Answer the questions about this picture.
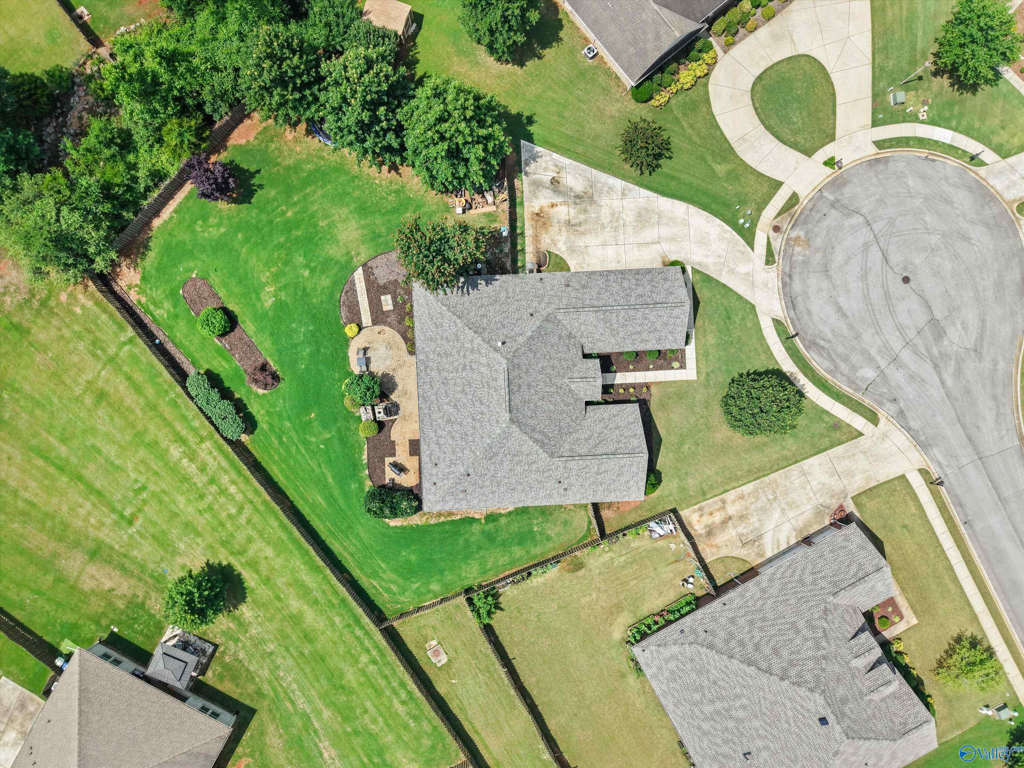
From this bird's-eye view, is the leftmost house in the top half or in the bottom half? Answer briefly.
bottom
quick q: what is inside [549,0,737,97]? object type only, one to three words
house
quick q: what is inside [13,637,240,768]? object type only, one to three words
house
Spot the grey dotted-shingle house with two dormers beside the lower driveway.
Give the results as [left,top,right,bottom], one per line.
[630,521,938,768]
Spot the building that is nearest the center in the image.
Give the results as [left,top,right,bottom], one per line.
[412,266,690,513]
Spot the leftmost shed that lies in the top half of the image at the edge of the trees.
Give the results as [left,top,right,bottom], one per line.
[362,0,414,47]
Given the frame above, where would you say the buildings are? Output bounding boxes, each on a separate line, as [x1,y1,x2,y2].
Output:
[412,266,690,513]
[630,521,938,768]
[362,0,414,47]
[13,637,240,768]
[549,0,737,97]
